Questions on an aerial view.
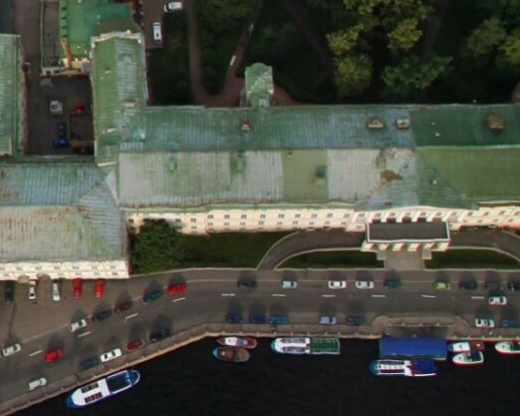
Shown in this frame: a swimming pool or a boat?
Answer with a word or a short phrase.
boat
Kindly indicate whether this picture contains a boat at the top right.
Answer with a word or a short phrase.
No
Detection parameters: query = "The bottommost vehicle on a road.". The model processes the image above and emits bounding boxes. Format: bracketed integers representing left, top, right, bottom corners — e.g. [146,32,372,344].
[27,377,47,390]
